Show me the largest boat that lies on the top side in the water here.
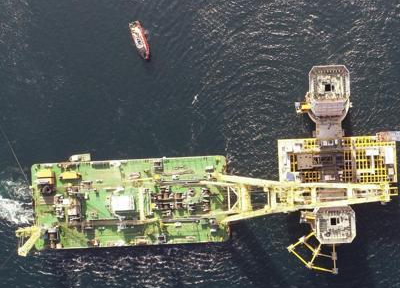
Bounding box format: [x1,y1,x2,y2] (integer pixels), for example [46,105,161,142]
[125,20,150,59]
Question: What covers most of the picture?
water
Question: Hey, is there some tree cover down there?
No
